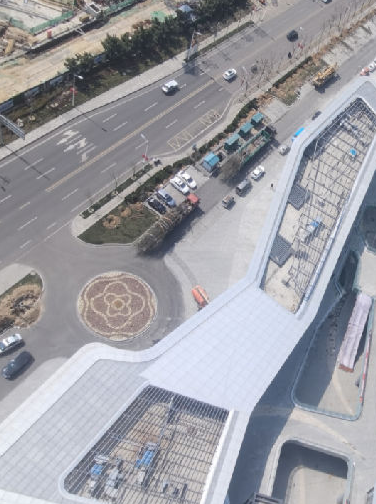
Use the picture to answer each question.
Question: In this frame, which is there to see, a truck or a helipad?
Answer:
truck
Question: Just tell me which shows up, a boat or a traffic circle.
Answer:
traffic circle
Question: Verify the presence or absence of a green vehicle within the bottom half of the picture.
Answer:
No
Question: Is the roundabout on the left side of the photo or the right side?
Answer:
left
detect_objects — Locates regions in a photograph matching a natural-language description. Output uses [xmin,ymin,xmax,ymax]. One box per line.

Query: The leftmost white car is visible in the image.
[0,333,25,354]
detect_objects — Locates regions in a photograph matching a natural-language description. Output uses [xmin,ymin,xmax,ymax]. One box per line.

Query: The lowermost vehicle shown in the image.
[0,352,35,377]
